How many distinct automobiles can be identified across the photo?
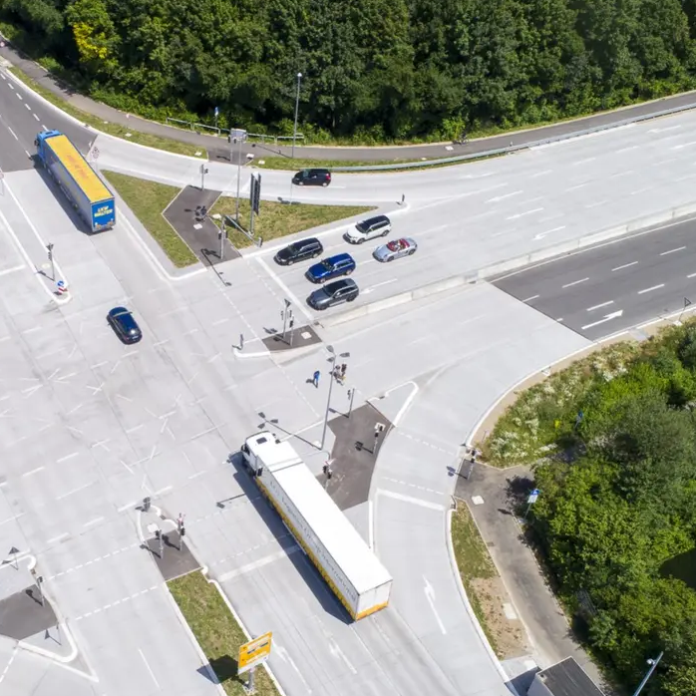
seven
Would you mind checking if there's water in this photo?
No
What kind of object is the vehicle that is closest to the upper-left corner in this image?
truck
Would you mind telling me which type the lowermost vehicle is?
truck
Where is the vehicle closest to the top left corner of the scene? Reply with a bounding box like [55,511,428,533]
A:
[33,128,116,229]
